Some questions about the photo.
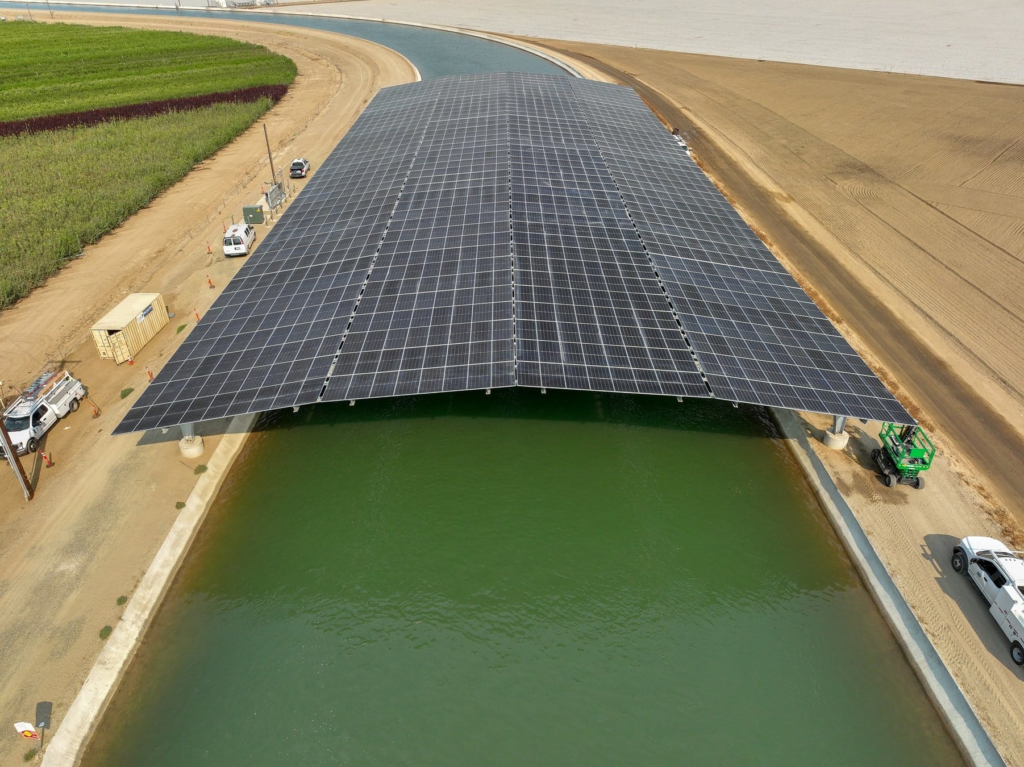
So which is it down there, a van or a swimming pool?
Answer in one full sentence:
The image shows a van.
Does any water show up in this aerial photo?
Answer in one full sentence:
Yes, water can be seen from above here.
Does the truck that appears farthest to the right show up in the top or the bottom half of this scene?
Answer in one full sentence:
The truck that appears farthest to the right is in the bottom half of the image.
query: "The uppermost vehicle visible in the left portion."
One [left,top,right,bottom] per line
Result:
[289,157,312,177]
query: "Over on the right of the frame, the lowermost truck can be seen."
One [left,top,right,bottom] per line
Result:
[954,539,1024,669]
